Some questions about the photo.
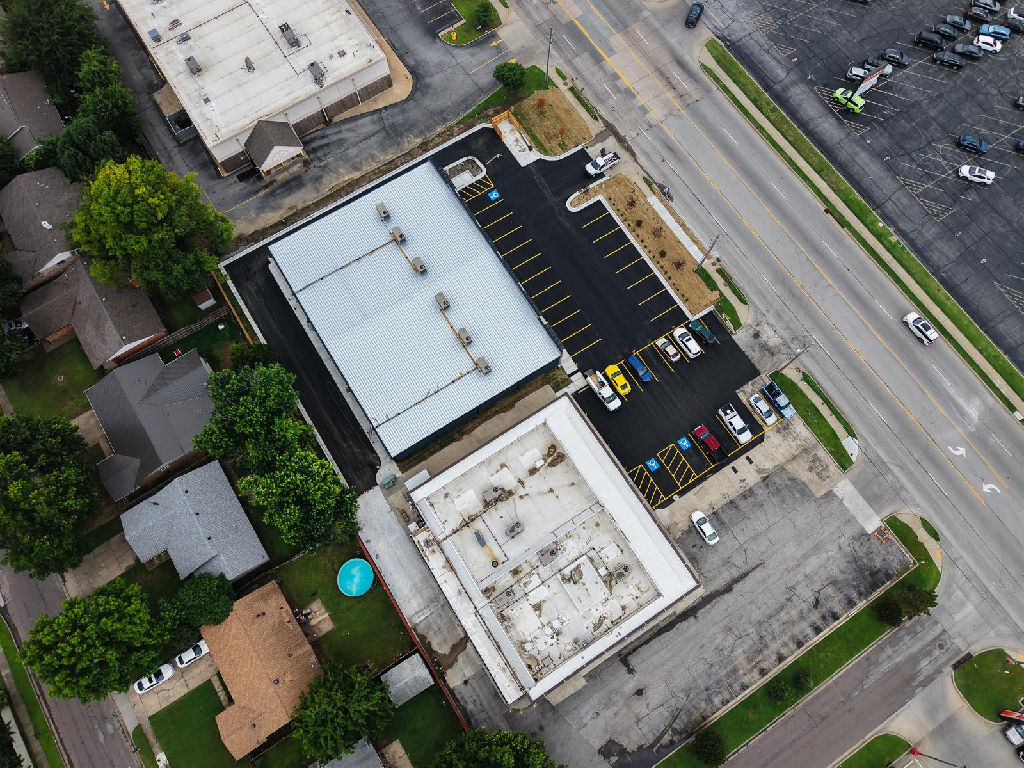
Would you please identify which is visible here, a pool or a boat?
pool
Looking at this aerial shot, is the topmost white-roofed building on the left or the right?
left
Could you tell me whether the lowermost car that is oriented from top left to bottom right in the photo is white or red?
white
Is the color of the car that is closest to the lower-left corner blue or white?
white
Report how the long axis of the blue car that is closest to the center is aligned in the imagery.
at an angle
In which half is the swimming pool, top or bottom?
bottom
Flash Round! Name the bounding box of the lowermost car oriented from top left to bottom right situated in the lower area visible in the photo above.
[691,509,721,547]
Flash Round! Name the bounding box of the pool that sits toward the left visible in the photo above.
[335,555,381,598]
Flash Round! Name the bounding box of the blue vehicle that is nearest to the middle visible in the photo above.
[627,353,653,383]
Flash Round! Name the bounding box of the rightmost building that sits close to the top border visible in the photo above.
[122,0,392,176]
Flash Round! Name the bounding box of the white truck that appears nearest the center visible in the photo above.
[586,370,621,411]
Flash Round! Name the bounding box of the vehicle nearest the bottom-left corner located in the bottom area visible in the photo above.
[133,662,175,696]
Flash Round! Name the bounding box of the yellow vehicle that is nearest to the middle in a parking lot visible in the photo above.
[606,364,632,396]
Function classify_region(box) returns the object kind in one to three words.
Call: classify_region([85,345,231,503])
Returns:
house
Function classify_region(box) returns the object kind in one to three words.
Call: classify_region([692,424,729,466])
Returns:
truck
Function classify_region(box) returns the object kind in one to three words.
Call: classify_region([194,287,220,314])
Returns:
shed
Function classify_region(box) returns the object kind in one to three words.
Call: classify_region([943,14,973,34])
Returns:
car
